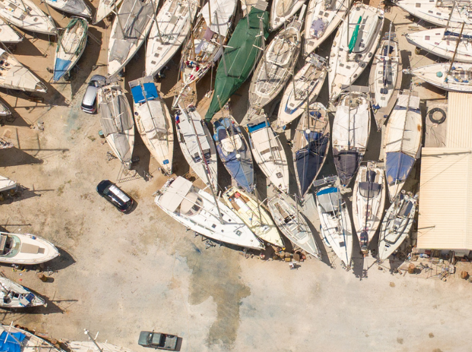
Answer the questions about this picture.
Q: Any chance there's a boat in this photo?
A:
Yes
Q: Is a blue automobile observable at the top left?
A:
No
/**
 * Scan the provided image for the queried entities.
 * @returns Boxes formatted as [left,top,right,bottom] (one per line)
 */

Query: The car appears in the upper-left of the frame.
[78,77,106,115]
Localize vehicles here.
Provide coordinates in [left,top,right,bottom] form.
[78,77,106,115]
[94,178,136,218]
[140,328,183,352]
